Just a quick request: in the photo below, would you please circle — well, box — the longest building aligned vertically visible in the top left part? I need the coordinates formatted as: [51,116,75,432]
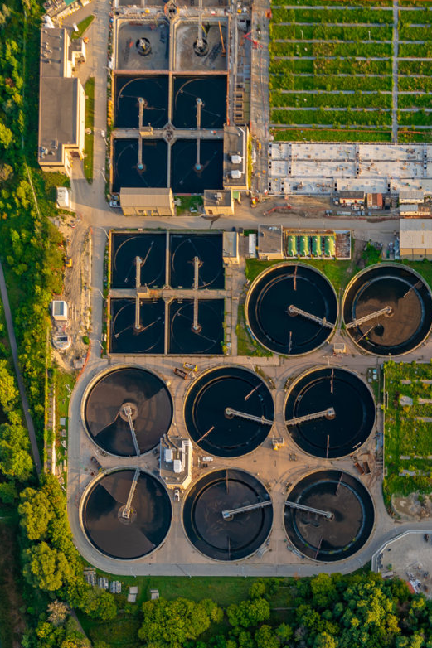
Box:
[38,28,86,175]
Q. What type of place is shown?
industrial area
